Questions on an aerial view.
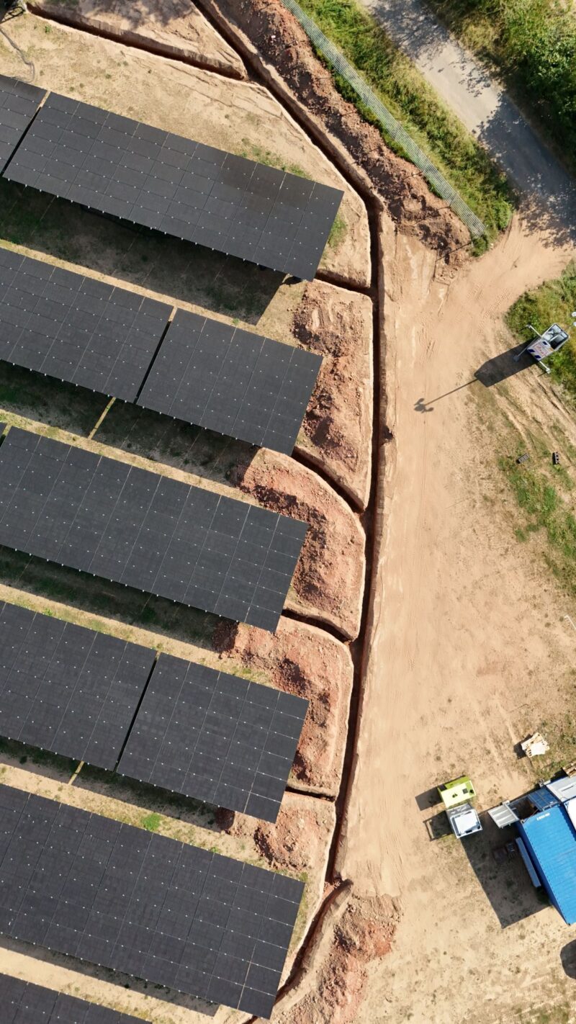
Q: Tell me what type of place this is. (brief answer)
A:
solar farm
